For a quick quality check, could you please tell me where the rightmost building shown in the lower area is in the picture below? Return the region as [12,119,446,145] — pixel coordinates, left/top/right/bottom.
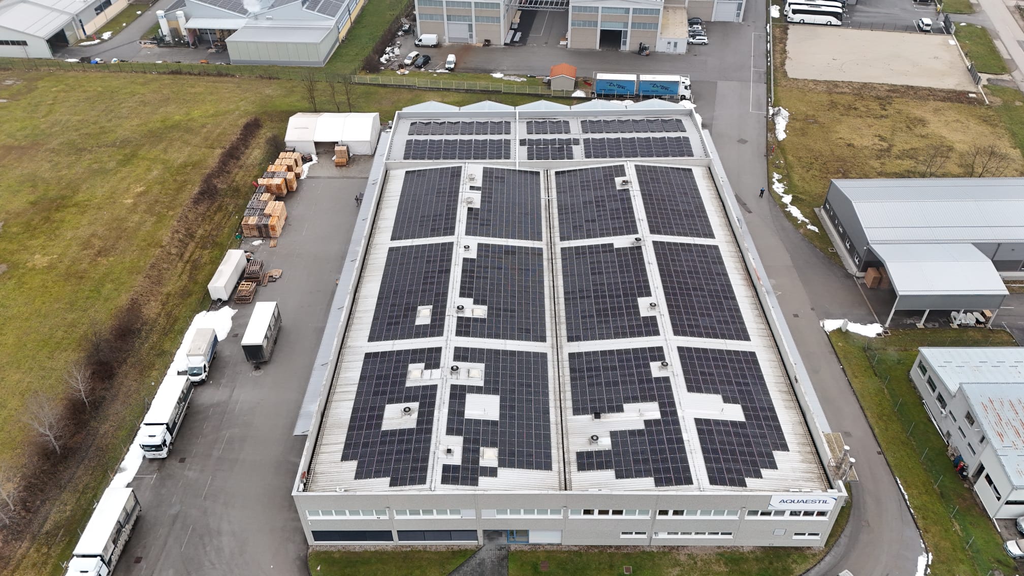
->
[909,345,1024,528]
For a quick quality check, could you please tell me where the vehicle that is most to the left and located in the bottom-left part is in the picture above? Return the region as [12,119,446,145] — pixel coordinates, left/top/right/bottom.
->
[70,488,142,576]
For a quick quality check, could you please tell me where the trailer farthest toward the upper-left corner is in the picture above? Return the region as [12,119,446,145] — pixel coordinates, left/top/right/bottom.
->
[207,248,248,312]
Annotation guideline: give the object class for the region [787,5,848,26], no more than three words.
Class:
bus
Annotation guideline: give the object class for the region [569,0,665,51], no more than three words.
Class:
building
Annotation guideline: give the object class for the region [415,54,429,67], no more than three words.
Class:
vehicle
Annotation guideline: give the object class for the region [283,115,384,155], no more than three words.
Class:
tent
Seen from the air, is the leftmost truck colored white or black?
white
